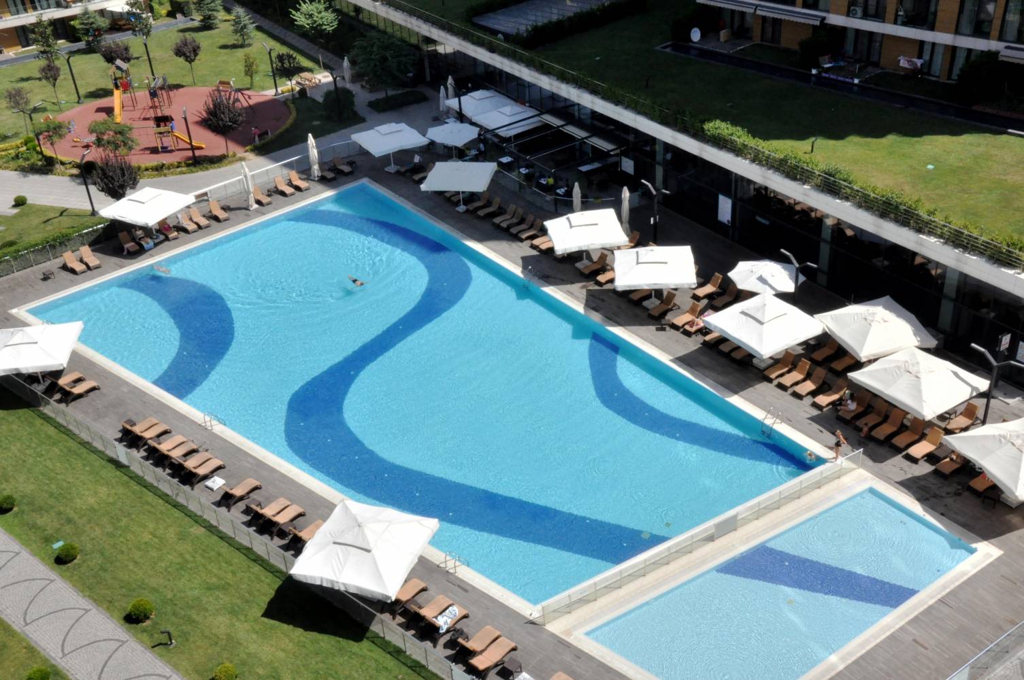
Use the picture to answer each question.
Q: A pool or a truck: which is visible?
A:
pool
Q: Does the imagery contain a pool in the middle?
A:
Yes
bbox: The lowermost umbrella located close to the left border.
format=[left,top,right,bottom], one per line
[0,323,85,388]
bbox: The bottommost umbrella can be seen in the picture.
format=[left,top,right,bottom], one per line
[291,507,439,603]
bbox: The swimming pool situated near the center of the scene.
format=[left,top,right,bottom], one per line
[27,183,825,605]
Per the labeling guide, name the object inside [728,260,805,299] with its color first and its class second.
white umbrella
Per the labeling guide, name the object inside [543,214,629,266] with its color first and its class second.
white umbrella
